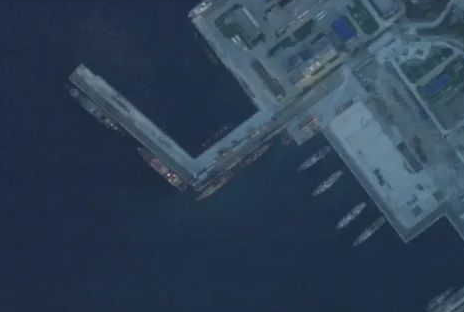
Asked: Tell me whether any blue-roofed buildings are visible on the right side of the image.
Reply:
Yes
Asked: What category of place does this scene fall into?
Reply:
port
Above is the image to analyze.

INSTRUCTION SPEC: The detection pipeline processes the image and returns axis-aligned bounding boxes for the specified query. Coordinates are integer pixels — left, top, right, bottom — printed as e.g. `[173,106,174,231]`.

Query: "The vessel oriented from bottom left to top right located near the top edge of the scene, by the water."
[188,0,214,15]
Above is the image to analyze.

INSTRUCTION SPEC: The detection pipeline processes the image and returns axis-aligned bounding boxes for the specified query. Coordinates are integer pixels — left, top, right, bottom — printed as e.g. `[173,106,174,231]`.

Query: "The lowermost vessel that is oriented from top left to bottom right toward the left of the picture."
[138,147,189,193]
